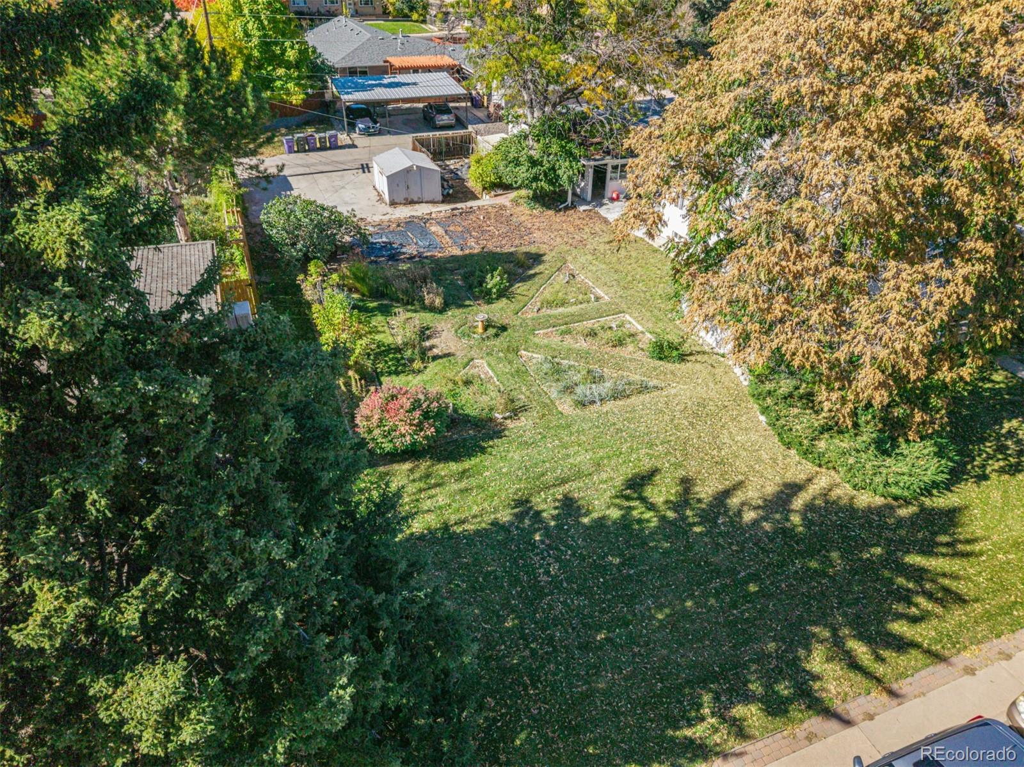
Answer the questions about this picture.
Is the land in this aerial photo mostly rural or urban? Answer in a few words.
rural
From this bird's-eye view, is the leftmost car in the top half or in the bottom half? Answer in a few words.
top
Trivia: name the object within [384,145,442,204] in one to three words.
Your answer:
shed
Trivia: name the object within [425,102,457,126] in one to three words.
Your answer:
car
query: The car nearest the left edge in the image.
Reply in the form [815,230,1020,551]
[351,105,381,133]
